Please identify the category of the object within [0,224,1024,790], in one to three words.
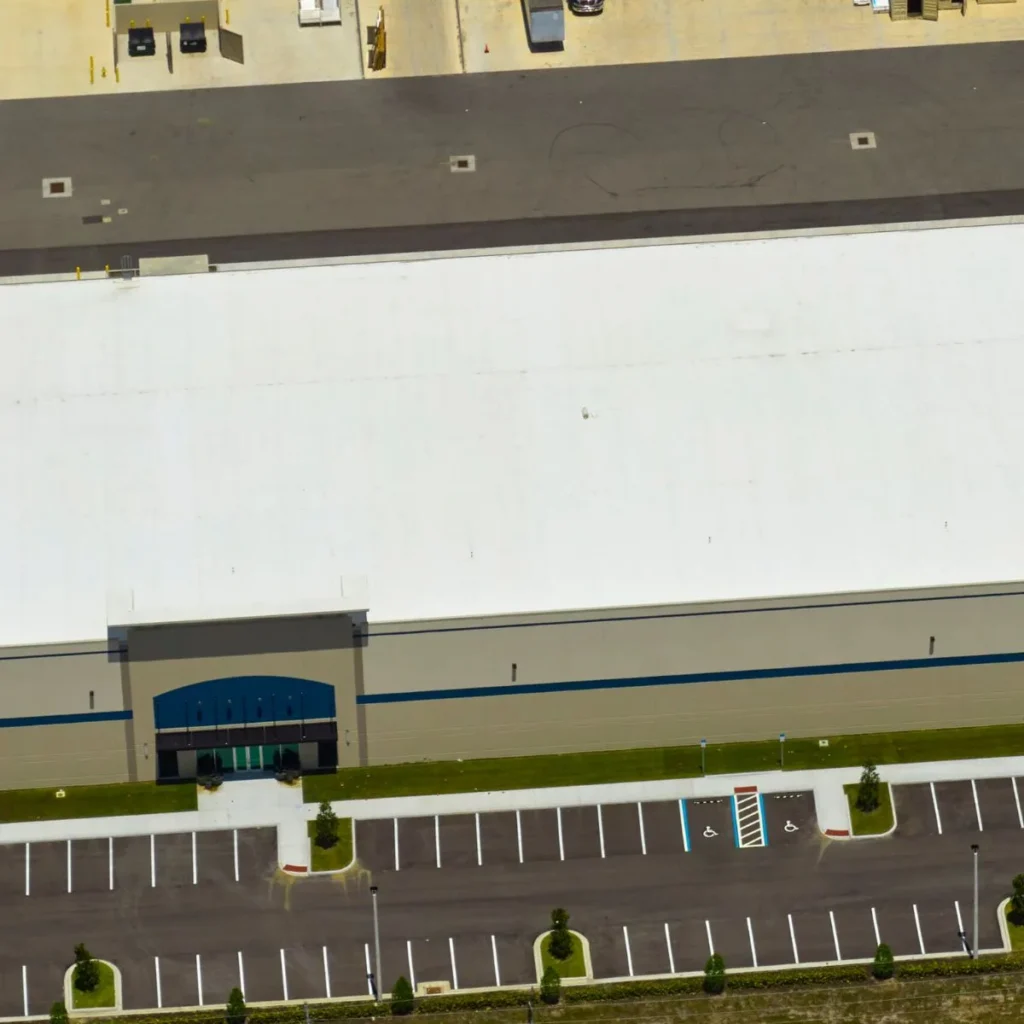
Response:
warehouse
